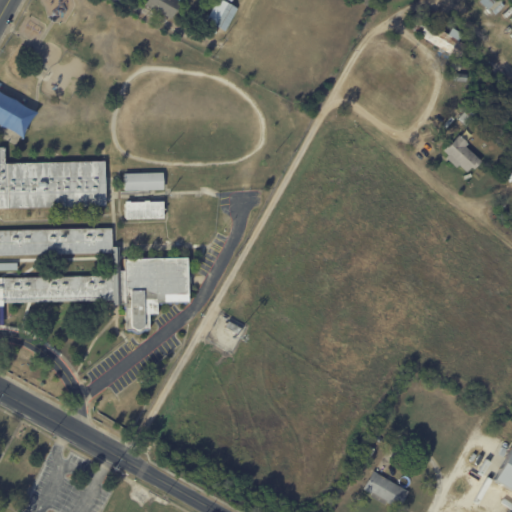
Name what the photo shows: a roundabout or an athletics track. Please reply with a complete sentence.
The image shows an athletics track.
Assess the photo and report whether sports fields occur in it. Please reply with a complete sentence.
Yes, there's a sports field here.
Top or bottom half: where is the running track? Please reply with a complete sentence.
The top half of the photo is where the running track is.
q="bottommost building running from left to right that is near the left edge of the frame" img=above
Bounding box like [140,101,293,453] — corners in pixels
[3,276,114,302]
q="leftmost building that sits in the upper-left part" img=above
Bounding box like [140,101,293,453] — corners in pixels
[0,92,38,140]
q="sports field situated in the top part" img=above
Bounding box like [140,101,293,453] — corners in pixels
[118,72,260,160]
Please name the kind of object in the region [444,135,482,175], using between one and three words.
house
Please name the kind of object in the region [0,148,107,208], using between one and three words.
building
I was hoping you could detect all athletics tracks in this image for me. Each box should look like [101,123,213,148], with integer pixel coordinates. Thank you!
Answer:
[110,65,266,168]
